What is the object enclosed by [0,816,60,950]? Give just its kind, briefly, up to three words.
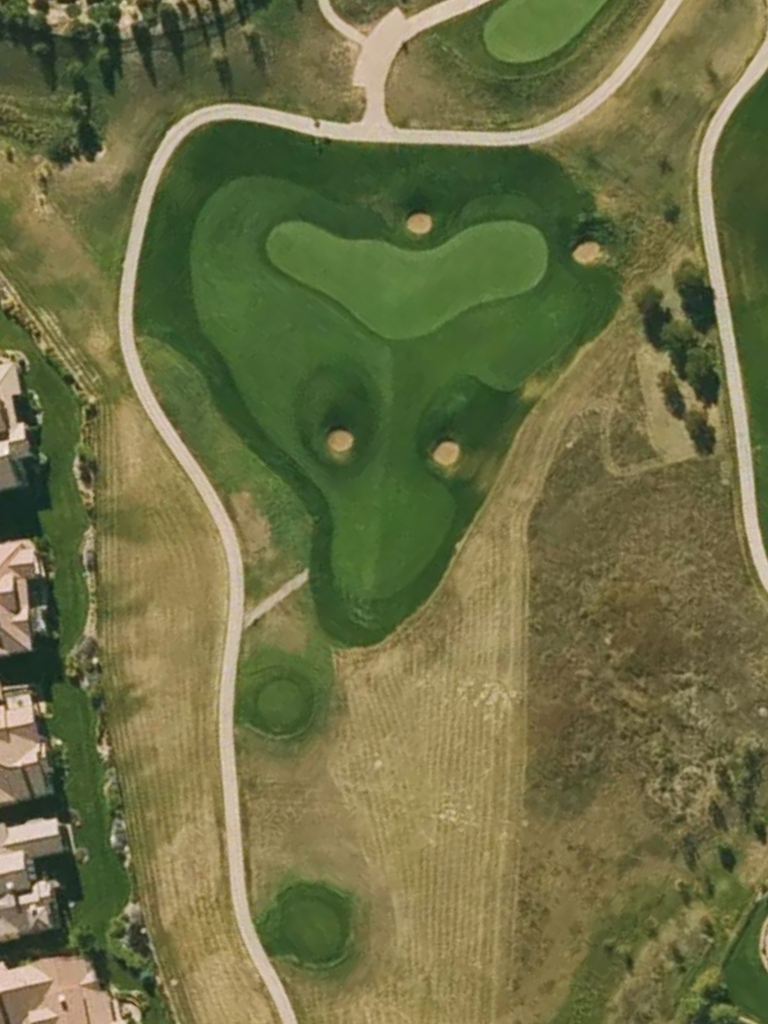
house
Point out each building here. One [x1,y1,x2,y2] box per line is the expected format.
[0,955,119,1024]
[0,816,60,950]
[0,538,33,653]
[0,692,45,807]
[0,354,27,490]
